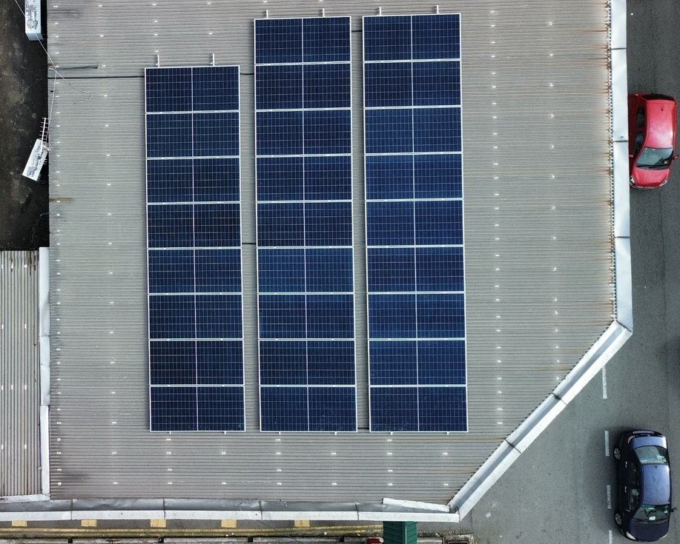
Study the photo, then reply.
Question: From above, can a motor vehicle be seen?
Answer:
Yes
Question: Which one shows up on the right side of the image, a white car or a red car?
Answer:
red car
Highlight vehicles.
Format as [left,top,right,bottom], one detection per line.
[613,427,679,543]
[627,94,674,189]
